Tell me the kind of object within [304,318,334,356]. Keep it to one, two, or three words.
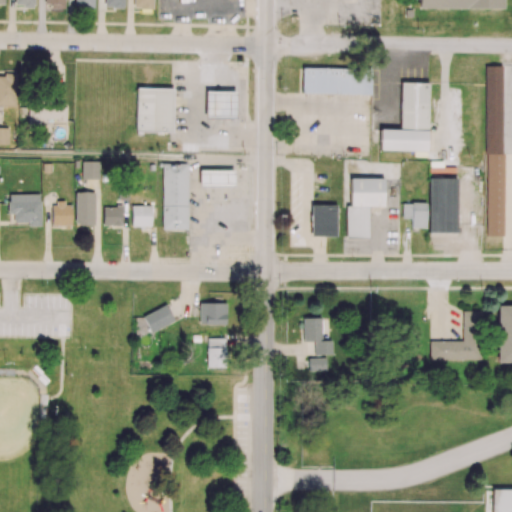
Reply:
house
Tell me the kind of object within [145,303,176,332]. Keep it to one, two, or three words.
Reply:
house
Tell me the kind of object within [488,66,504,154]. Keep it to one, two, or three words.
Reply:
building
